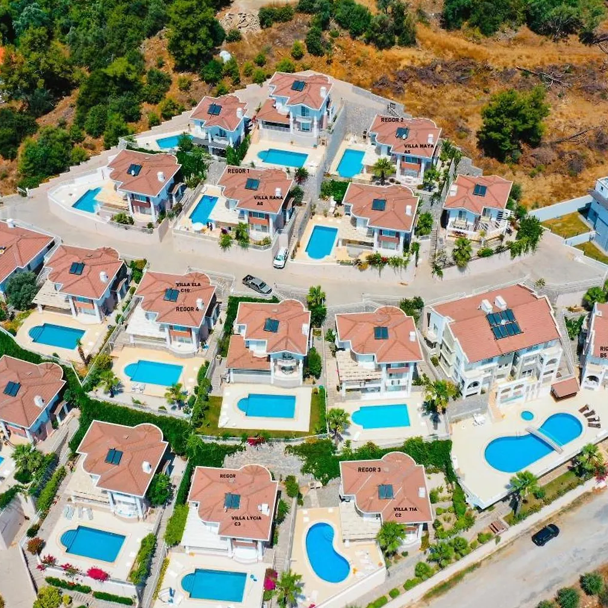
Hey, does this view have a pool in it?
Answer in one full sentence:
Yes, there is a pool in the image.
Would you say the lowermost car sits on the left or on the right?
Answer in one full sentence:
The lowermost car sits on the right side.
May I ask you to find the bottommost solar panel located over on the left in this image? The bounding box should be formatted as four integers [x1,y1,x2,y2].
[220,487,241,504]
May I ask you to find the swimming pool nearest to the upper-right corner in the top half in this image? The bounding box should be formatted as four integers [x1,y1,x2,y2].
[335,148,367,179]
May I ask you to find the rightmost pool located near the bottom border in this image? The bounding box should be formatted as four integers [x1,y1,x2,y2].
[302,519,354,585]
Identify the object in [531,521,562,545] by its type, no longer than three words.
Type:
car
